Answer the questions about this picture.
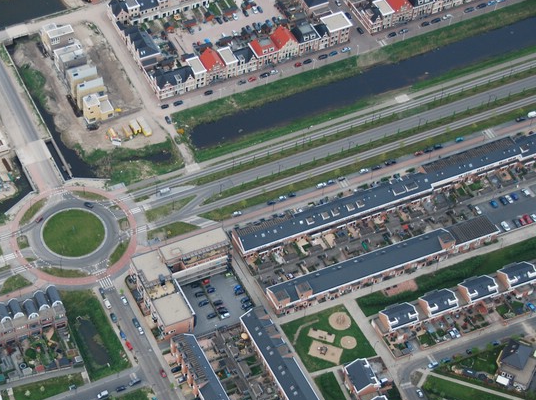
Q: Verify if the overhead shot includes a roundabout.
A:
Yes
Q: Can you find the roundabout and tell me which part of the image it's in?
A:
left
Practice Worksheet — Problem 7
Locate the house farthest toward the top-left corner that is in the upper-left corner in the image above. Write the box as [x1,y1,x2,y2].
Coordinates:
[41,22,74,53]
